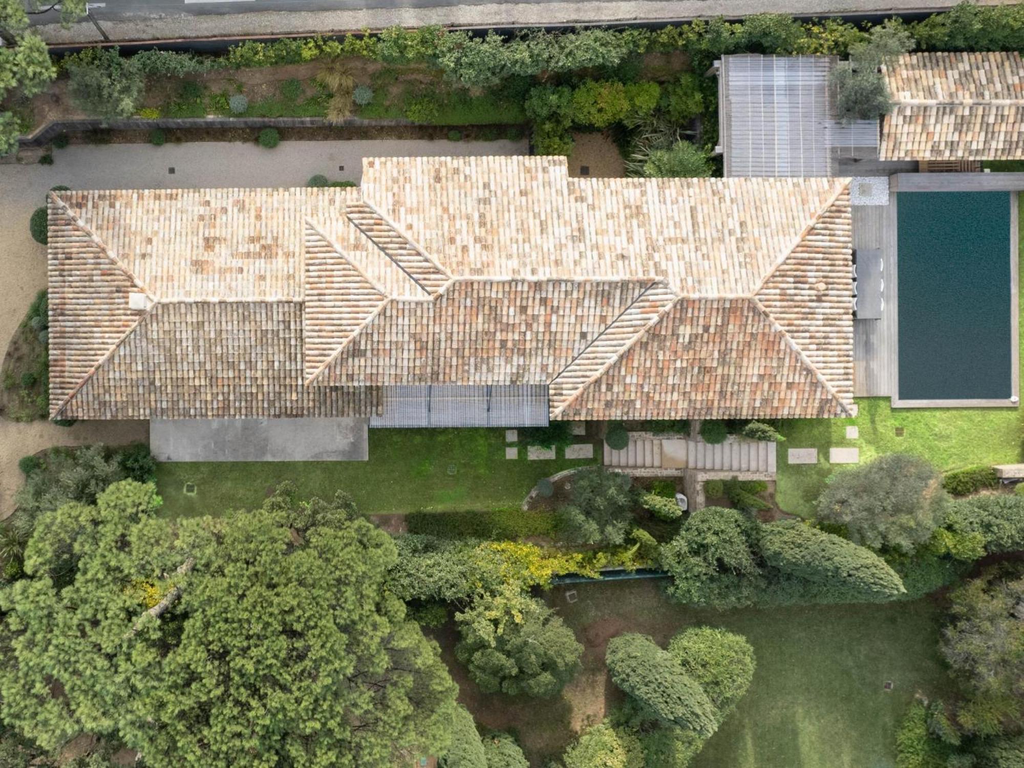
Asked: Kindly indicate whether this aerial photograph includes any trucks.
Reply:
No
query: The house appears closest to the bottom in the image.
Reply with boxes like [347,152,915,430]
[46,151,854,422]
